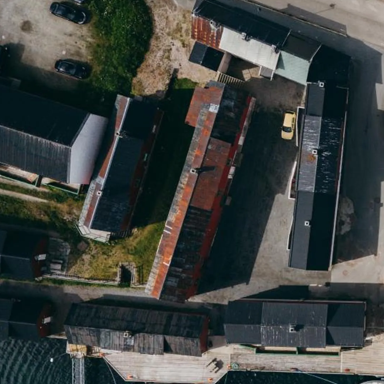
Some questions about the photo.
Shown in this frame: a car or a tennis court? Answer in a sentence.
Visible in the photo is a car.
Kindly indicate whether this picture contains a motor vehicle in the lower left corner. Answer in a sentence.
No, there's no motor vehicle to be seen in the lower left corner.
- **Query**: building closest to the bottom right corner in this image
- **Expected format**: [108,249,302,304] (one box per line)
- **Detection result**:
[225,299,368,346]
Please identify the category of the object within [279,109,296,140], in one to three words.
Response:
car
